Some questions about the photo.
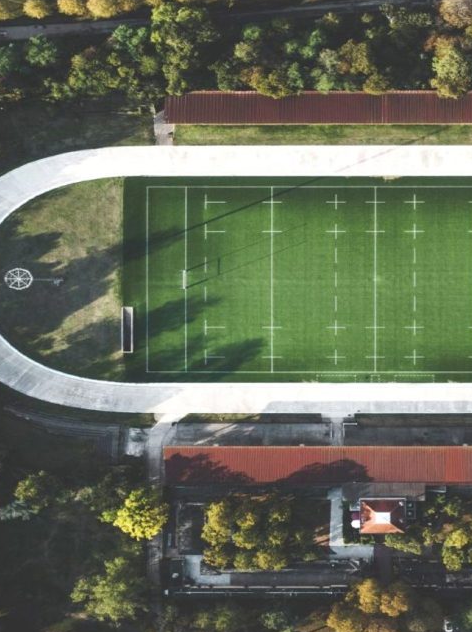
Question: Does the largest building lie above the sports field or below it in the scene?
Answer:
below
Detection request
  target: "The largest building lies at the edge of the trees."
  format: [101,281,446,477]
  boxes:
[342,485,425,534]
